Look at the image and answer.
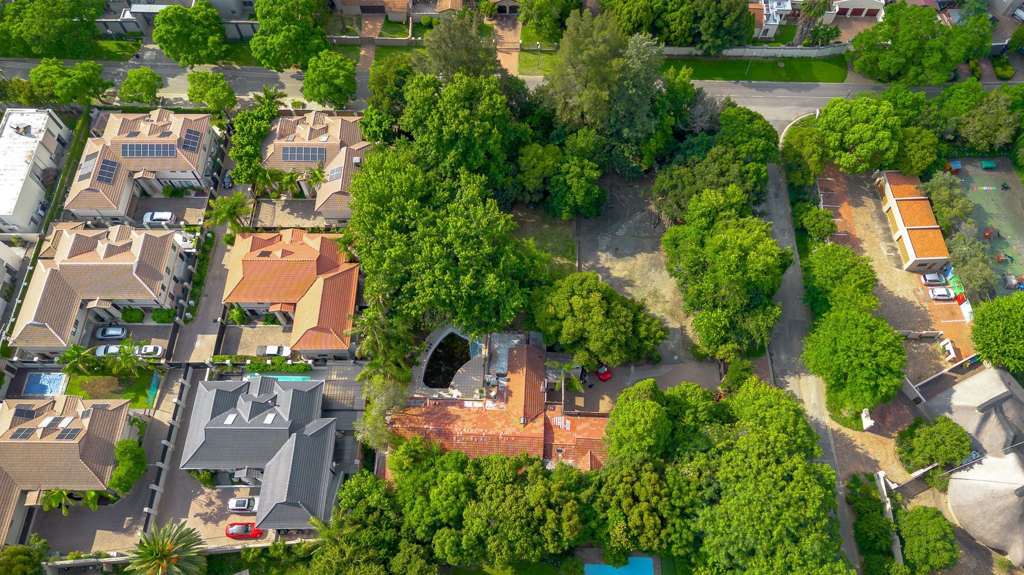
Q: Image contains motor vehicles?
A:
Yes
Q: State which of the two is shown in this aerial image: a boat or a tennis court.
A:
tennis court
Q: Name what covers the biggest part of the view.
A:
trees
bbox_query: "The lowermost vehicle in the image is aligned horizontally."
[224,520,265,539]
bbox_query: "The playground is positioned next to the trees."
[939,156,1024,308]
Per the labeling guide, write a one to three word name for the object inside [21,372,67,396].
swimming pool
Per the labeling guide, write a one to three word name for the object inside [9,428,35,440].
solar panel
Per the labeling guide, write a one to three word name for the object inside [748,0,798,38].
house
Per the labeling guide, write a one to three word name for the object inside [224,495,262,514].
car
